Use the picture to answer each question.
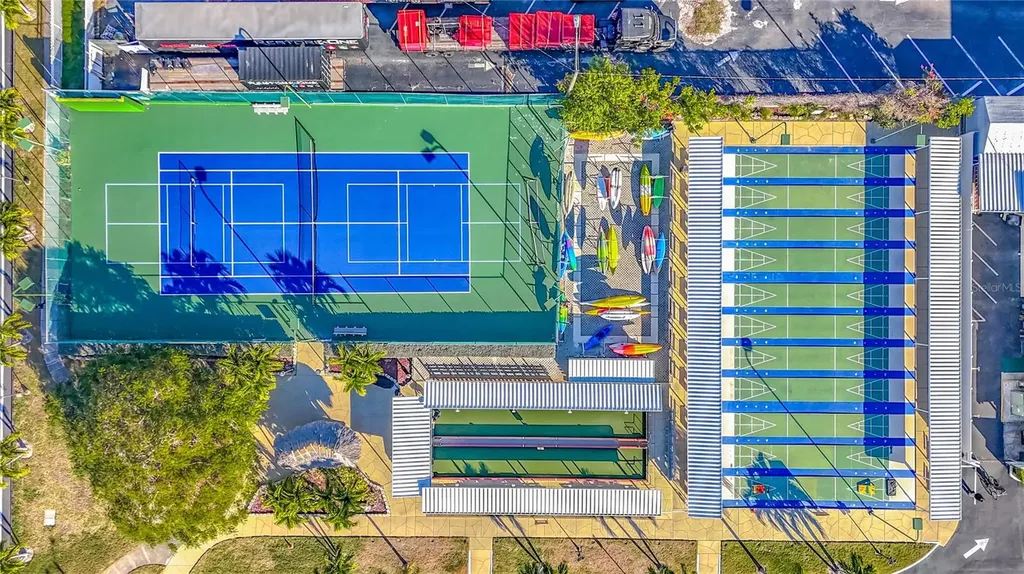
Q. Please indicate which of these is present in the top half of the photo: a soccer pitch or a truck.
truck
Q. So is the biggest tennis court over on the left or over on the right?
left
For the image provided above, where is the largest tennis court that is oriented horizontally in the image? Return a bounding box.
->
[61,95,559,343]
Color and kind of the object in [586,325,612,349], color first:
blue boat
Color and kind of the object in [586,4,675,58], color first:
gray truck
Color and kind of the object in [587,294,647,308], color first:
yellow boat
